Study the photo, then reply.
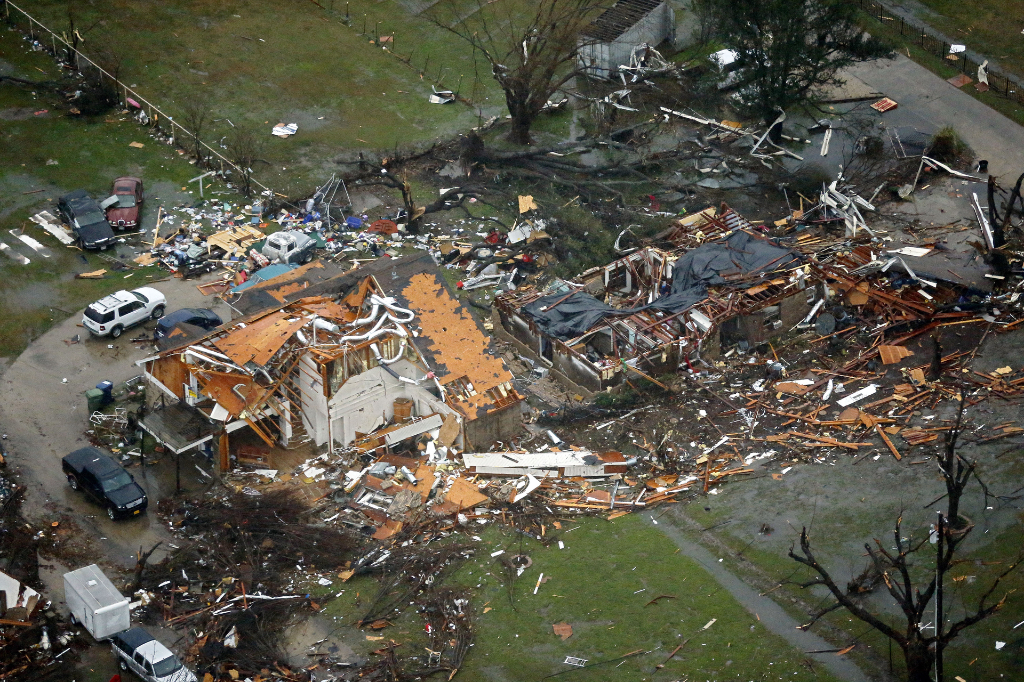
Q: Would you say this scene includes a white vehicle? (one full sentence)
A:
Yes, the frame does contain a white vehicle.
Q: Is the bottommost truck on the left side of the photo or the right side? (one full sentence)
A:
It is on the left.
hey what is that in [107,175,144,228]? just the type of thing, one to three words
car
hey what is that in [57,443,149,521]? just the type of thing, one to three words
truck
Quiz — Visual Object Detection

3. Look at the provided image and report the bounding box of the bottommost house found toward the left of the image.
[135,251,529,498]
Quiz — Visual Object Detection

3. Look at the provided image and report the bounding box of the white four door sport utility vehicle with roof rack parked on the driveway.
[85,284,171,336]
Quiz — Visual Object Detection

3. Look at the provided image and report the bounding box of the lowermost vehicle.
[110,629,185,682]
